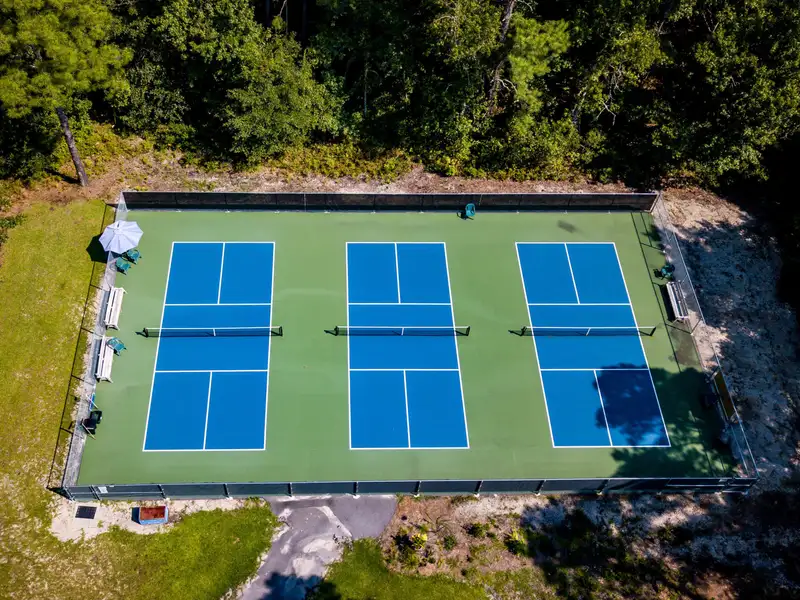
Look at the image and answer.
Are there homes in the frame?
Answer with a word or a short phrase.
No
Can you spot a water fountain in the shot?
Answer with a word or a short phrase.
No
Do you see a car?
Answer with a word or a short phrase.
No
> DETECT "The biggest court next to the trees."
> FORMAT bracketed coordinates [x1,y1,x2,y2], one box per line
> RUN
[73,210,743,502]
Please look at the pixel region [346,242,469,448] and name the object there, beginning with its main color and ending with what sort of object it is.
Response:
blue sports court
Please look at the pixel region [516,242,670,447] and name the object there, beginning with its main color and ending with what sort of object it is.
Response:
blue sports court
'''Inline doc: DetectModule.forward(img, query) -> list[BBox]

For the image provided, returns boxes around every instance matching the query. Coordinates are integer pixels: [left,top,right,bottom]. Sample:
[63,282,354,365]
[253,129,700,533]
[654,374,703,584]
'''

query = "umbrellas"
[99,222,143,262]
